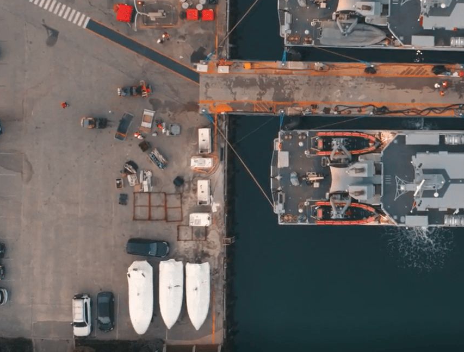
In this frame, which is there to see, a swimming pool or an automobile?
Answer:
automobile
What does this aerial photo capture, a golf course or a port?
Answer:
port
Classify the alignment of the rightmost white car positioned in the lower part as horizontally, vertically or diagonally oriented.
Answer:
vertically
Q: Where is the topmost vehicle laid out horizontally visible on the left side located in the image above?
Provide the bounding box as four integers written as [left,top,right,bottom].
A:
[118,81,155,96]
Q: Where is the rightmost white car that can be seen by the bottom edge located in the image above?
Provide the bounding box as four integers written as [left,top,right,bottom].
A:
[70,292,93,336]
